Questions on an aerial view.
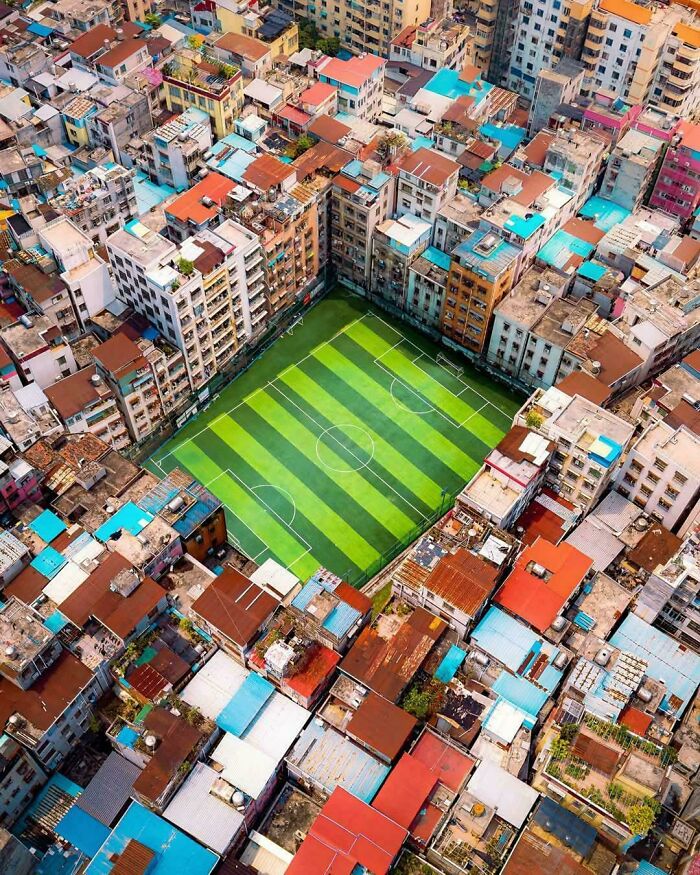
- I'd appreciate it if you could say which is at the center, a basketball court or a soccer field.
soccer field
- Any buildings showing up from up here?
Yes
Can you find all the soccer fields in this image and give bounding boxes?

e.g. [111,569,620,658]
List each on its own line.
[123,285,520,592]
